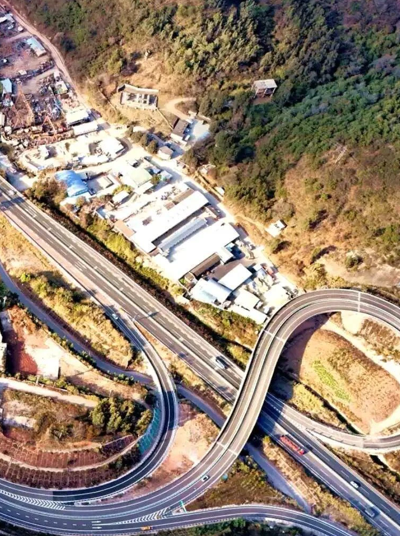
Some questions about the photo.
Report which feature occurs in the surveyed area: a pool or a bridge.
bridge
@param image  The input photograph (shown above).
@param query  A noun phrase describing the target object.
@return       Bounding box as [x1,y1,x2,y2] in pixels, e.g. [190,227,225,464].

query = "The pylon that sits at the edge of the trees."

[331,146,349,167]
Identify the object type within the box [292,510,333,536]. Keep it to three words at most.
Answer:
bridge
